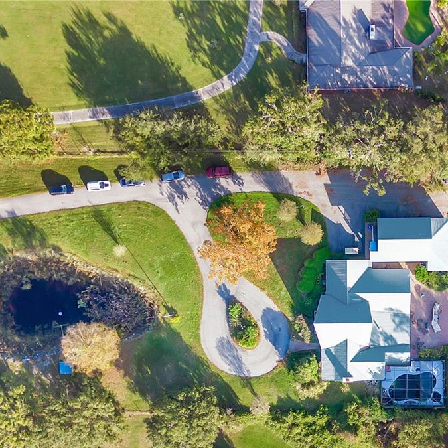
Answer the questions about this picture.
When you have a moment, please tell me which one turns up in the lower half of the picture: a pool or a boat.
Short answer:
pool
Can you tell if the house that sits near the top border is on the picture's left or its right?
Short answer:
right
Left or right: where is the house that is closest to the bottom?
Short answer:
right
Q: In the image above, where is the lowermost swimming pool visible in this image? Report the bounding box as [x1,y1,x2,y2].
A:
[388,371,441,403]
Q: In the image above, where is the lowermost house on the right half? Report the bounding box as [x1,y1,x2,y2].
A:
[313,259,411,384]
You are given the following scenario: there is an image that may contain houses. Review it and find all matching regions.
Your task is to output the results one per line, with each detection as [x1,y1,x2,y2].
[313,259,411,384]
[299,0,414,90]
